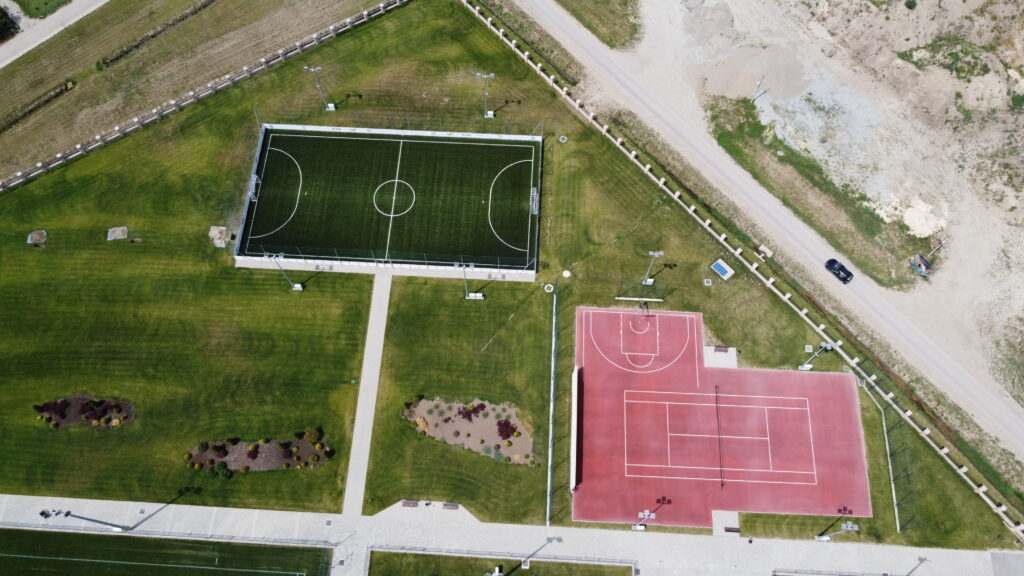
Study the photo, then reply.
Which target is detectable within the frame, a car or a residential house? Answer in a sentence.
This aerial view contains a car.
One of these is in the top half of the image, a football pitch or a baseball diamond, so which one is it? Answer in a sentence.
Looking in the top half of the image, you will find a football pitch.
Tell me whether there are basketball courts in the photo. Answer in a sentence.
Yes, the picture does show a basketball court.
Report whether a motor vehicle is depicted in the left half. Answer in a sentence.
No, there is no motor vehicle in the left half.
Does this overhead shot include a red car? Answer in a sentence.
No, there is no red car in the image.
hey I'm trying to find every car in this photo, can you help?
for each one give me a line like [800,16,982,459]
[825,259,855,285]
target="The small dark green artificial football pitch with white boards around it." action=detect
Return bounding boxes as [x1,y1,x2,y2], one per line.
[239,129,541,270]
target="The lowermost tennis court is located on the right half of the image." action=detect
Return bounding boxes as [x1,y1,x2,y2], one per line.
[571,361,873,528]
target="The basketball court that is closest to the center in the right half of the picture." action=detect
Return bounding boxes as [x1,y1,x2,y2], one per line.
[574,307,706,387]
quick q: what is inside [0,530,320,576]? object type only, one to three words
soccer field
